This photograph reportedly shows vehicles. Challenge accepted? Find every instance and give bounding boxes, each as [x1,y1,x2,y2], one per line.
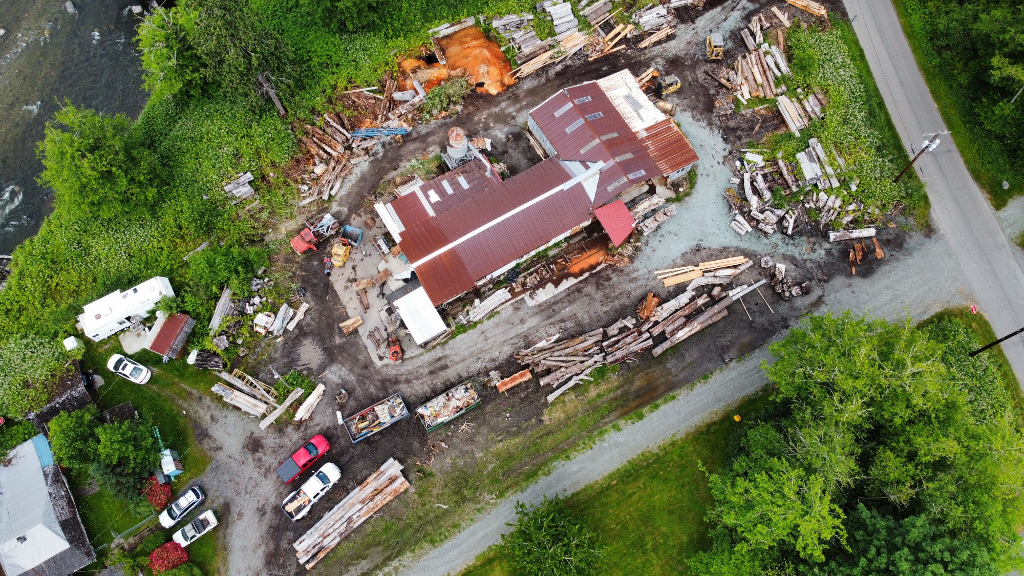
[273,435,333,487]
[705,33,725,72]
[290,215,342,258]
[158,484,206,530]
[174,507,221,548]
[385,335,405,363]
[328,238,353,269]
[649,74,684,100]
[105,353,156,387]
[278,464,344,523]
[80,371,99,394]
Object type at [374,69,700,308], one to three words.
building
